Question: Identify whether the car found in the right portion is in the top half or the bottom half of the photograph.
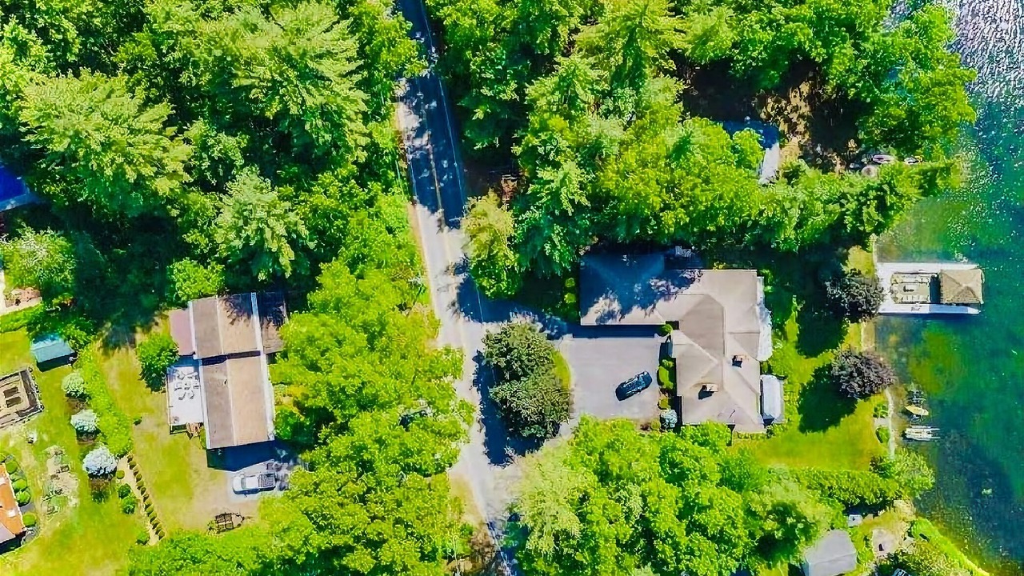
bottom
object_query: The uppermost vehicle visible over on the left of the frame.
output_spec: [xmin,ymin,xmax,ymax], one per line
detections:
[231,473,277,495]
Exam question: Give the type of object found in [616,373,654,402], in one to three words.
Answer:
car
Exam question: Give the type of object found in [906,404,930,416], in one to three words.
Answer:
boat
